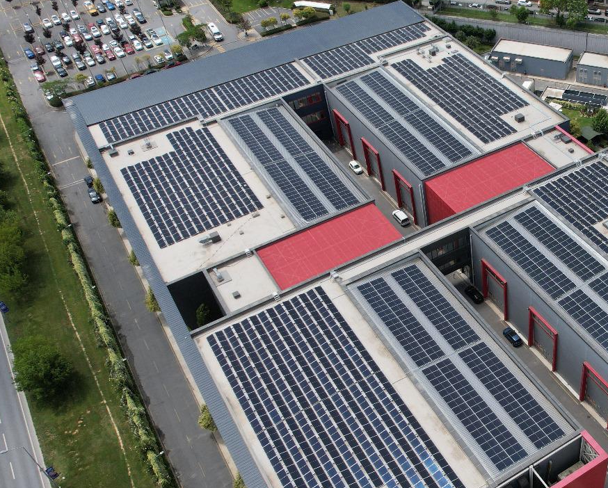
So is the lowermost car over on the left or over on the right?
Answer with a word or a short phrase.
right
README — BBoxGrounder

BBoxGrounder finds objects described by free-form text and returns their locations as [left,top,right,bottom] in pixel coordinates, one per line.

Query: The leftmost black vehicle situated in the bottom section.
[462,284,485,305]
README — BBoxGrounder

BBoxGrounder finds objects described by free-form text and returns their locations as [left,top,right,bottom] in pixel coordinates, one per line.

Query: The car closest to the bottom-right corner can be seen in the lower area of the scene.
[499,325,525,349]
